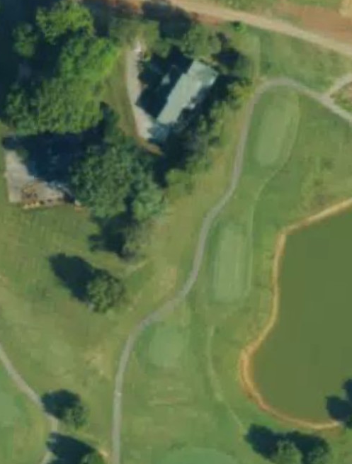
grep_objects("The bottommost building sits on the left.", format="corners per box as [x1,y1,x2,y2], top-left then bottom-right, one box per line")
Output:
[2,146,73,206]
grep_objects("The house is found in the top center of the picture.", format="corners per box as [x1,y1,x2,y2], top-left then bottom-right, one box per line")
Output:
[149,56,224,137]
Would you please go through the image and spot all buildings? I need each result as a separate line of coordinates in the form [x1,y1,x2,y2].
[149,56,224,137]
[2,146,73,206]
